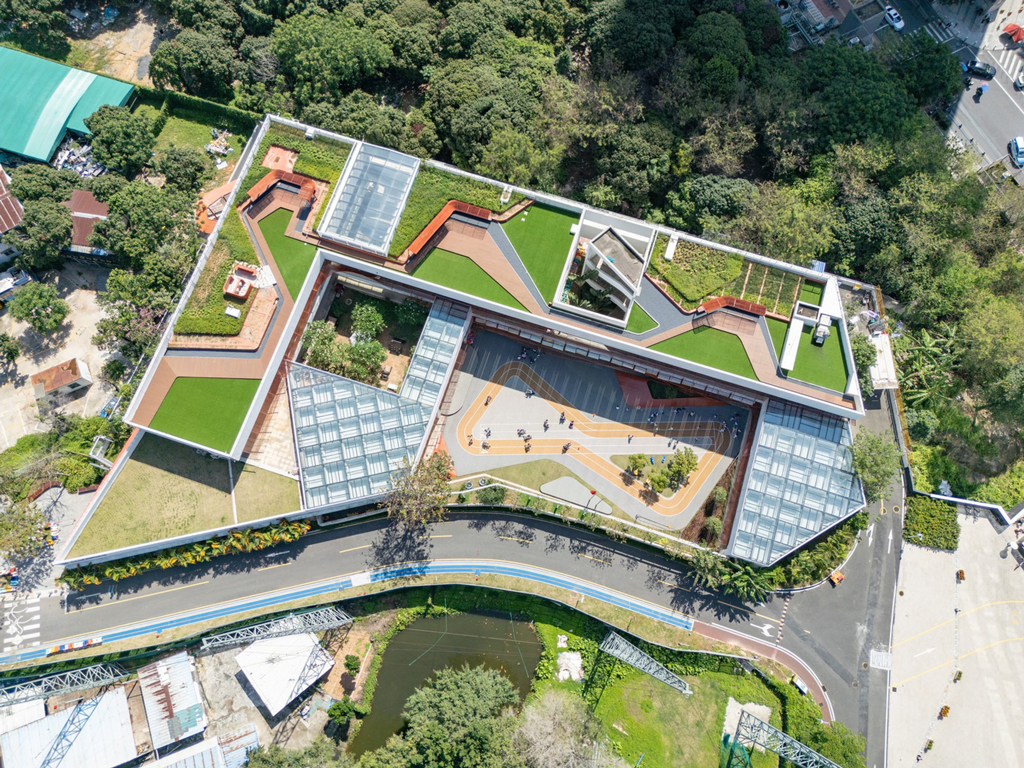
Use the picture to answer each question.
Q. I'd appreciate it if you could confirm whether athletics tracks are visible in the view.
Yes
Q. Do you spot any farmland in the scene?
No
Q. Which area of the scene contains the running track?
center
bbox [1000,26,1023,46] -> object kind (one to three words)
umbrella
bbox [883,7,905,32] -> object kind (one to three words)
car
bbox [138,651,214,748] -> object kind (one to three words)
shed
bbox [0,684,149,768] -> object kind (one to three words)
shed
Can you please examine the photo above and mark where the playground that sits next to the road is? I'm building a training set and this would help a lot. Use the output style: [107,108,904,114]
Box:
[430,323,759,546]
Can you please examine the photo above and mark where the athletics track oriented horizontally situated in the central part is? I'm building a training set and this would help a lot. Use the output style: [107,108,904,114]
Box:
[454,356,732,513]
